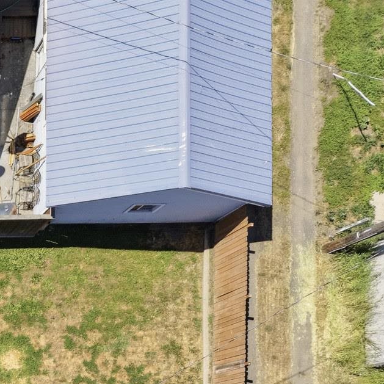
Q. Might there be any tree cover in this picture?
No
